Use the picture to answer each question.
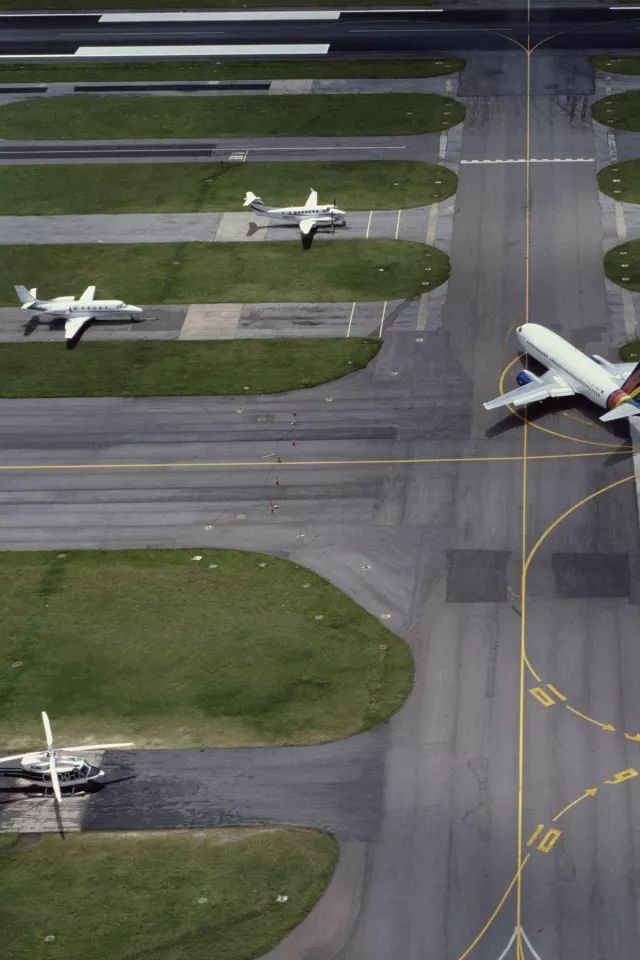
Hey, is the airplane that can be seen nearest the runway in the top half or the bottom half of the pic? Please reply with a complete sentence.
The airplane that can be seen nearest the runway sits in the top half of the picture.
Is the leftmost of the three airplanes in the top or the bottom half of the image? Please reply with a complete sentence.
The leftmost of the three airplanes sits in the top half of the picture.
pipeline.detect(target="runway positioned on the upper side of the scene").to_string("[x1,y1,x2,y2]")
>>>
[0,5,640,62]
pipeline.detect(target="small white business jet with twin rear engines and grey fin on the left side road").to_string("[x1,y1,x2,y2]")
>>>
[9,286,141,338]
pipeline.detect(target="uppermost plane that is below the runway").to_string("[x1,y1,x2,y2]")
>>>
[242,188,344,233]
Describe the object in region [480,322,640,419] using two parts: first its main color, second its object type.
white airplane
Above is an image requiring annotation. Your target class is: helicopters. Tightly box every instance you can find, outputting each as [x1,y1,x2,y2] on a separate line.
[0,712,135,800]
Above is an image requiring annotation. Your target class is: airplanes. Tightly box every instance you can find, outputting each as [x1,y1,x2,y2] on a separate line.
[480,322,640,419]
[242,188,344,233]
[9,286,141,338]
